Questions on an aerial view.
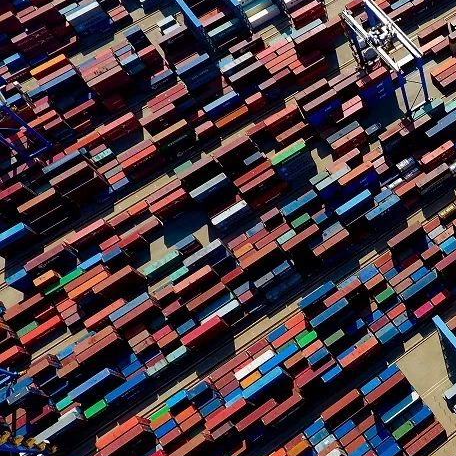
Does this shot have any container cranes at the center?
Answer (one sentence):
No, no container crane is visible at the center.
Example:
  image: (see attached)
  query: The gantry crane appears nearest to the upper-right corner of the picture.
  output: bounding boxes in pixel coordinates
[343,0,433,119]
